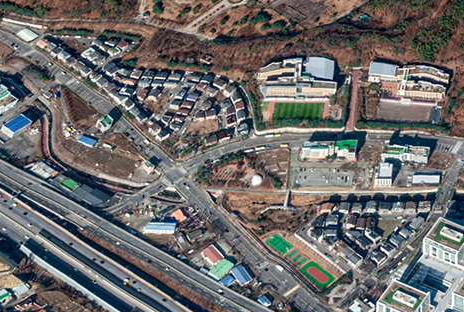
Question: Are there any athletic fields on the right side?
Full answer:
Yes, an athletic field shows up on the right side.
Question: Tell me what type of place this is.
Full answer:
The picture captures a residential area.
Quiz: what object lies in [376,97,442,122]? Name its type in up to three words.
sports field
